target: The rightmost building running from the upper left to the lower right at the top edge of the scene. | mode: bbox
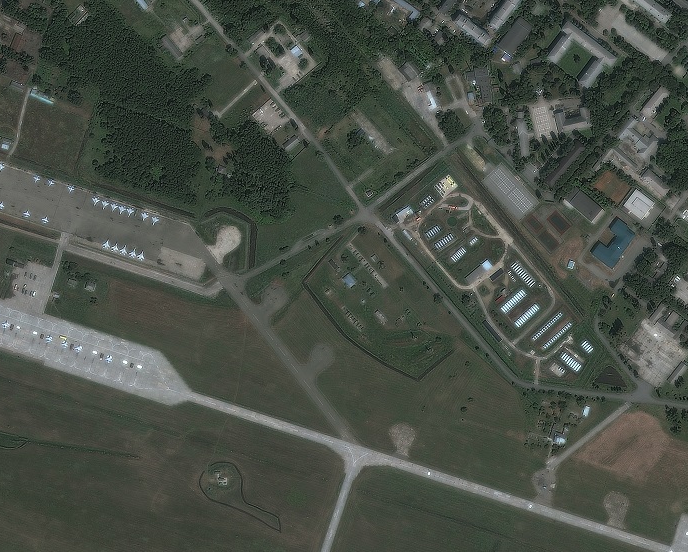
[634,0,672,24]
